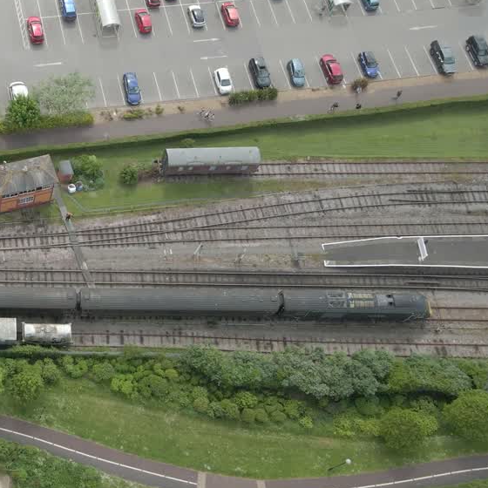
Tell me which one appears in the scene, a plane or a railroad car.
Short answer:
railroad car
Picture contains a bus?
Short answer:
Yes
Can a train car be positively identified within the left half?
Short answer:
Yes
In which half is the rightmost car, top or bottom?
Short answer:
top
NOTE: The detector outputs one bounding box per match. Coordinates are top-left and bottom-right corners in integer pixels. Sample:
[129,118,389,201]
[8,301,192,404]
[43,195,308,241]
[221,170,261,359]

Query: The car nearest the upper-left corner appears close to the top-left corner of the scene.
[27,19,44,45]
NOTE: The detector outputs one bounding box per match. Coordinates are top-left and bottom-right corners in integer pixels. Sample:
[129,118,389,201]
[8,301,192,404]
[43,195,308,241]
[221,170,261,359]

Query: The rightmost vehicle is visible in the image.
[462,36,488,68]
